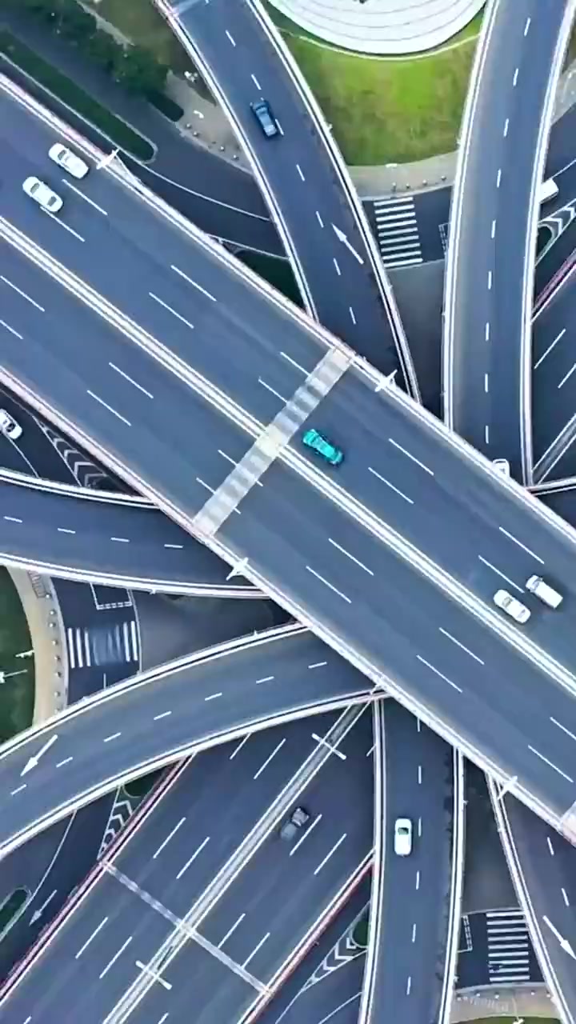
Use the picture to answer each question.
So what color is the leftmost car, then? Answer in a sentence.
The color of the leftmost car is white.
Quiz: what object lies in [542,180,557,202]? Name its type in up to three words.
vehicle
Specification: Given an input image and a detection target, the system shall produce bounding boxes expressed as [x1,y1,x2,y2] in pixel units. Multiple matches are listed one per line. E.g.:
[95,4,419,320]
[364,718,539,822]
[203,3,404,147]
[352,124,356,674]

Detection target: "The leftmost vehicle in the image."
[0,403,24,438]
